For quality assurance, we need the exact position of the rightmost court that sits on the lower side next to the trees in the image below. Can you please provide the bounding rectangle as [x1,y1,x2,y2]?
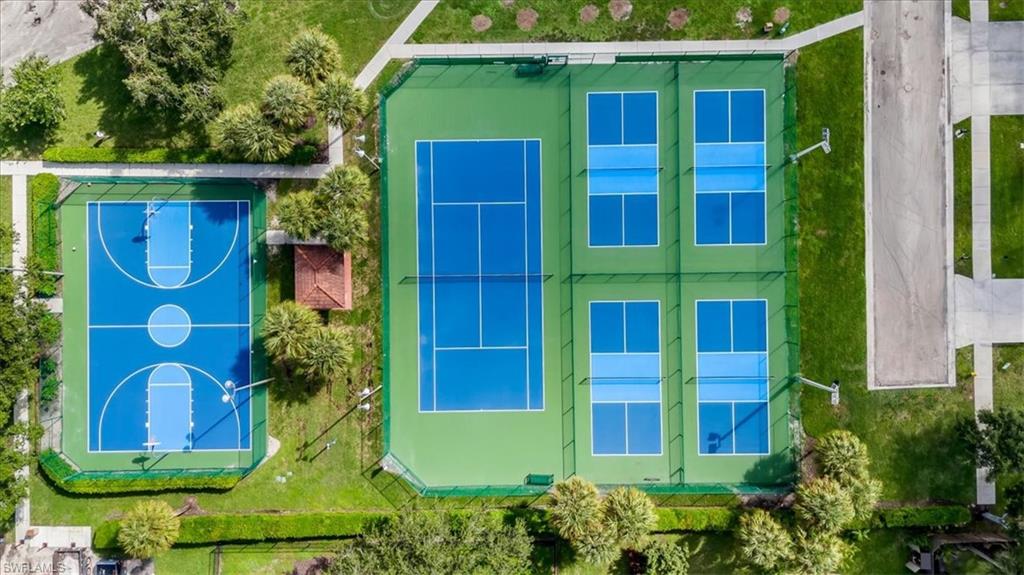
[679,272,787,489]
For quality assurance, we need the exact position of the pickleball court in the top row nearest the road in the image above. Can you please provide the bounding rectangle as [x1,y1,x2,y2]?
[677,63,786,272]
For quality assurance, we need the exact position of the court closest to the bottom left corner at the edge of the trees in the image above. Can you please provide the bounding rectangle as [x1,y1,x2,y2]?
[60,180,268,472]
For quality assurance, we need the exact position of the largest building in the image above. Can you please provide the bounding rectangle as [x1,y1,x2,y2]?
[294,245,350,310]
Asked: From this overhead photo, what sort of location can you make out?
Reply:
sports ground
